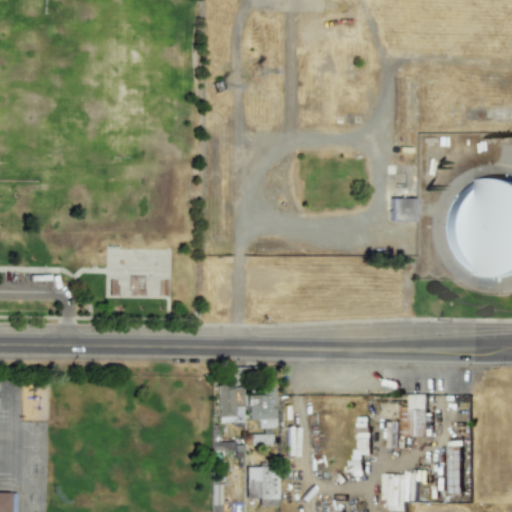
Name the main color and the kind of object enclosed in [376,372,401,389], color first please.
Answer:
white vehicle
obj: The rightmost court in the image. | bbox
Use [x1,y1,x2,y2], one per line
[22,422,47,512]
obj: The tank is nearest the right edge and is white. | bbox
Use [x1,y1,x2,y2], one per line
[446,177,512,279]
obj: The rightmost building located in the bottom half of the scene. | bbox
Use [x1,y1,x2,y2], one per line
[443,447,462,497]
